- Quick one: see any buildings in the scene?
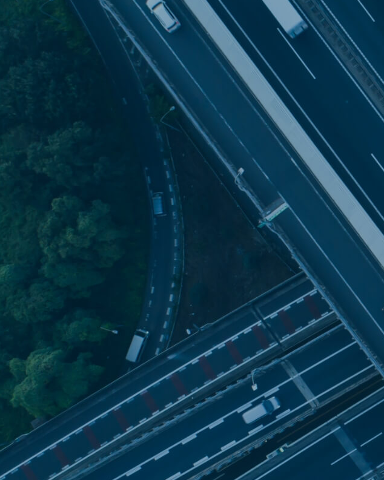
No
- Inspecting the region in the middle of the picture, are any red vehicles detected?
No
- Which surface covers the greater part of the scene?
paved ground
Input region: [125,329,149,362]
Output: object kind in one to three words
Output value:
vehicle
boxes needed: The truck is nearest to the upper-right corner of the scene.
[263,0,316,48]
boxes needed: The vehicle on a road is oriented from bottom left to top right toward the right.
[242,395,281,425]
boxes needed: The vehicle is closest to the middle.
[150,189,168,217]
